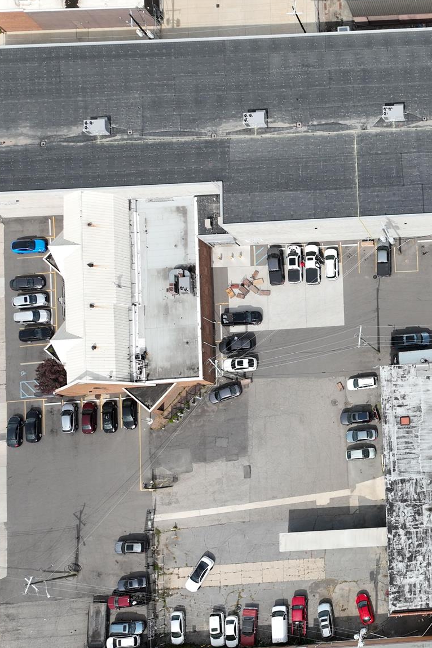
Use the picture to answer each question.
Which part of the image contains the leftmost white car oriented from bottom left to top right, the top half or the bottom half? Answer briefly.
bottom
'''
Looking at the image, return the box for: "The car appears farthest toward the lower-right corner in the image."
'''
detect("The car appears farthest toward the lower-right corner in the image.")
[356,593,374,625]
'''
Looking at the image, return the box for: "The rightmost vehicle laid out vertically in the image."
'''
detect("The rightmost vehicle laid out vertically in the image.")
[374,240,391,278]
